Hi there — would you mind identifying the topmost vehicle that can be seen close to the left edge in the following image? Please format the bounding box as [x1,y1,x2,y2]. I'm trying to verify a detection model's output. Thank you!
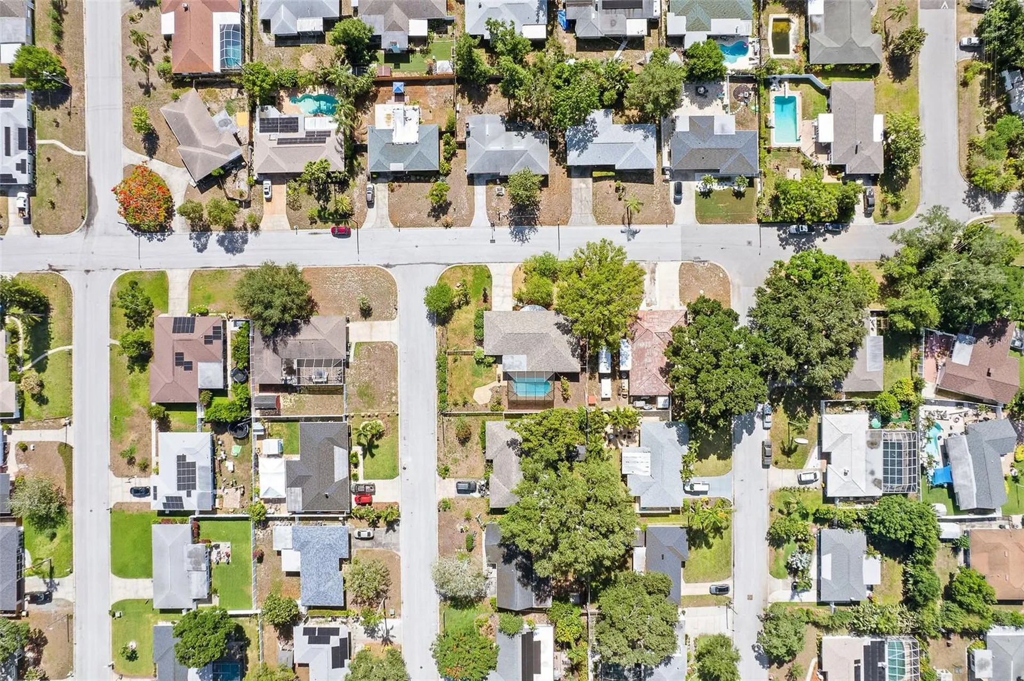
[16,193,29,218]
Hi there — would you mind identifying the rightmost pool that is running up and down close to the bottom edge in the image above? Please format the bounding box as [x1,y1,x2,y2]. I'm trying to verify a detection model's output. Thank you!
[888,640,908,681]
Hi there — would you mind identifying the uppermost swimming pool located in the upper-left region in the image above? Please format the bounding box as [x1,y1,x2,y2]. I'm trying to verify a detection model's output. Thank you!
[221,27,241,67]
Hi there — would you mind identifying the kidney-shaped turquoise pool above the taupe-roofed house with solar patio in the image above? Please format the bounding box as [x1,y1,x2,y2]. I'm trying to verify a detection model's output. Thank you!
[290,93,340,116]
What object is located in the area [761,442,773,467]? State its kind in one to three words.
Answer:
vehicle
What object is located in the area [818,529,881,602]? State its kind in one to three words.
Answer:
house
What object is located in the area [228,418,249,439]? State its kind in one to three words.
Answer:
trampoline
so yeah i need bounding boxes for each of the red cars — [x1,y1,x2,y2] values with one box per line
[354,495,374,505]
[331,226,351,236]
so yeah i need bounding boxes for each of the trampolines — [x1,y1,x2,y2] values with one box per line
[228,368,248,384]
[228,418,249,439]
